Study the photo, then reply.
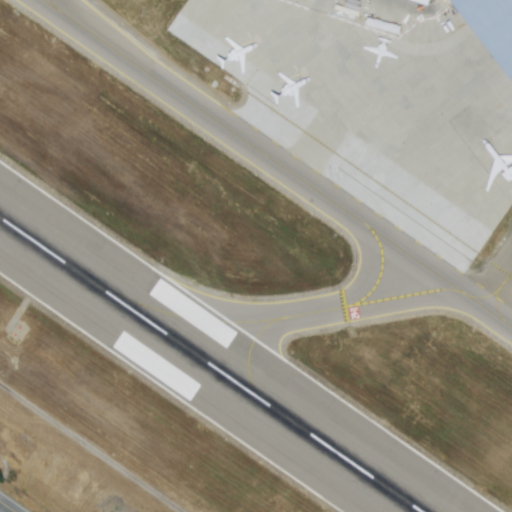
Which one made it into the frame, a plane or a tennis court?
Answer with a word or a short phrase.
plane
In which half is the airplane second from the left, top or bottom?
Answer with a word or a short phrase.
top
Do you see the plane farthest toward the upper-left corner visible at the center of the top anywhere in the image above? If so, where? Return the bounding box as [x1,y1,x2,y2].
[216,37,257,72]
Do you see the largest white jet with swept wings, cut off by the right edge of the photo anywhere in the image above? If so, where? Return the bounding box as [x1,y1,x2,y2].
[484,140,512,192]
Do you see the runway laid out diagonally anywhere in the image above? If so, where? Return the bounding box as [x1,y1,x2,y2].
[0,160,505,512]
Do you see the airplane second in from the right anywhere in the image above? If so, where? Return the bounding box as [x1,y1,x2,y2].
[364,36,398,68]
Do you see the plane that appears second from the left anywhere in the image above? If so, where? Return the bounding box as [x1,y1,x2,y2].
[270,72,310,108]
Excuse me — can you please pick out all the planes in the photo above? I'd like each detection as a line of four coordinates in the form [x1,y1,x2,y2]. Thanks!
[270,72,310,108]
[364,36,398,68]
[216,37,257,72]
[484,140,512,192]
